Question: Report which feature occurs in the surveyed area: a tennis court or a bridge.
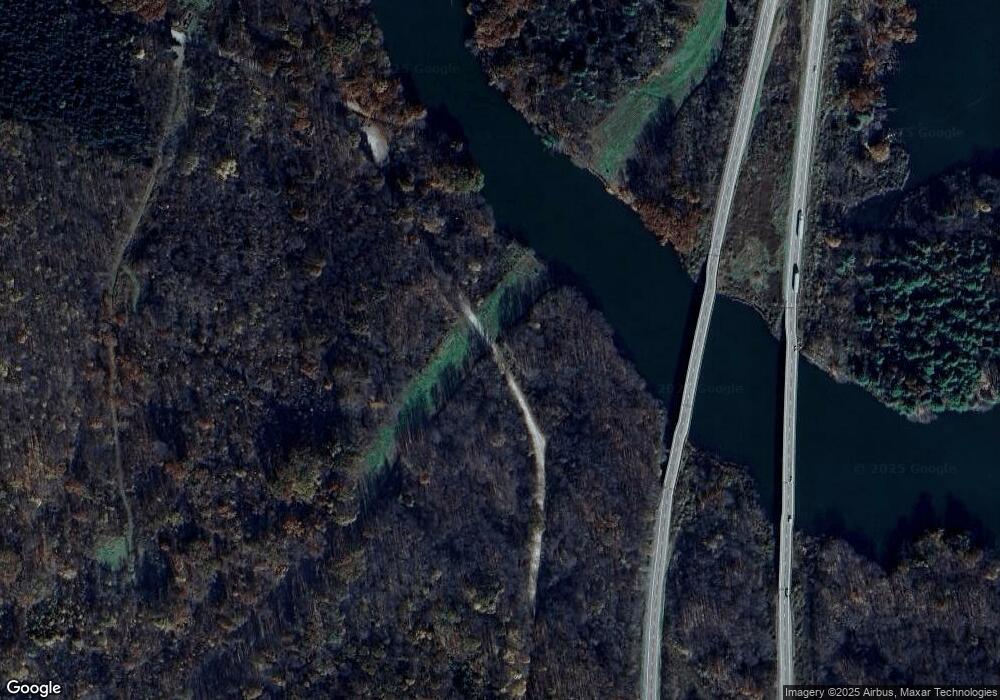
bridge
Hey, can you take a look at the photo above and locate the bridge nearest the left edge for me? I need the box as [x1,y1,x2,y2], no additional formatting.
[660,255,722,504]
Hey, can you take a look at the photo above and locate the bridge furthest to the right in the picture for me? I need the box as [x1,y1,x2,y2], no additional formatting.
[778,307,798,589]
